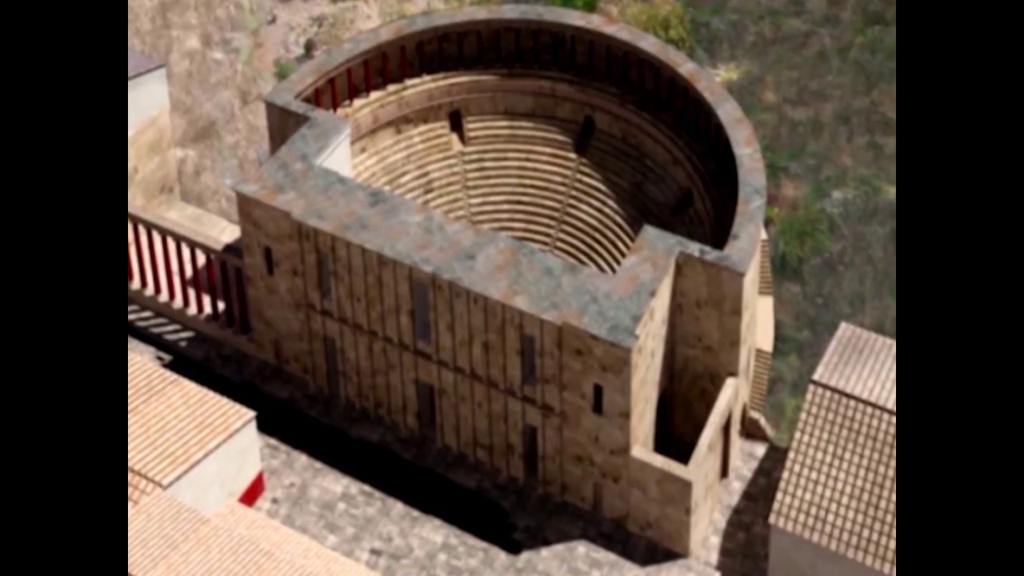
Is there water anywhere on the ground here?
No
